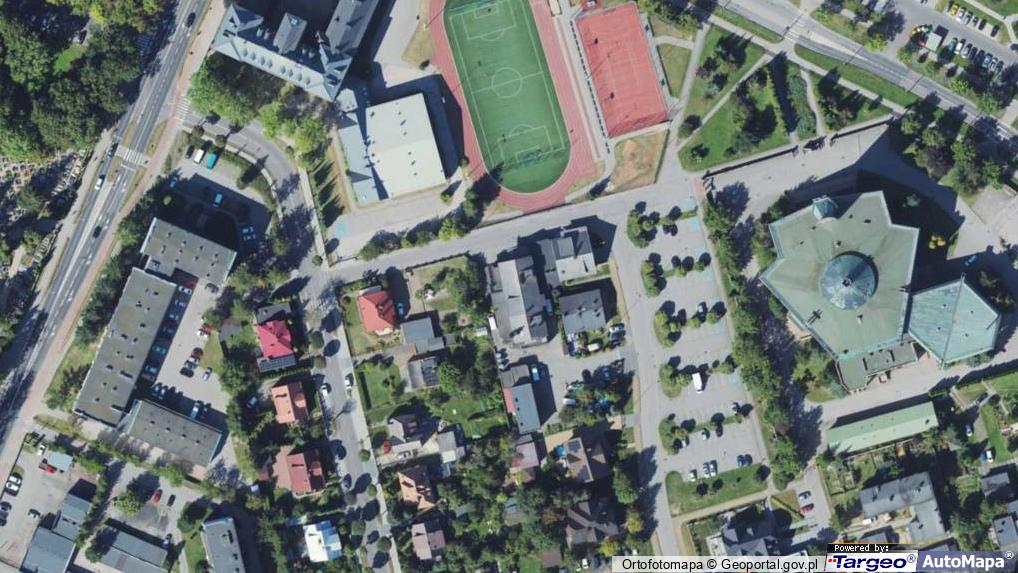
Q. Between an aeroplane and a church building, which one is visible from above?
church building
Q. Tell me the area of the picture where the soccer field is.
top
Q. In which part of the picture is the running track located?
top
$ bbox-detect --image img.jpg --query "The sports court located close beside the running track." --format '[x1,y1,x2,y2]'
[576,2,668,137]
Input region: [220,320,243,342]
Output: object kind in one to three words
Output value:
shed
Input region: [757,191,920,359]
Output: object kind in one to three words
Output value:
church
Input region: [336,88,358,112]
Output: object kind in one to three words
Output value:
building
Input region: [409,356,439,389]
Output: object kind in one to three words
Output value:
house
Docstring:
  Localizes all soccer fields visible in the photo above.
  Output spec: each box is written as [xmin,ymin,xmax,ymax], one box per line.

[442,0,570,194]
